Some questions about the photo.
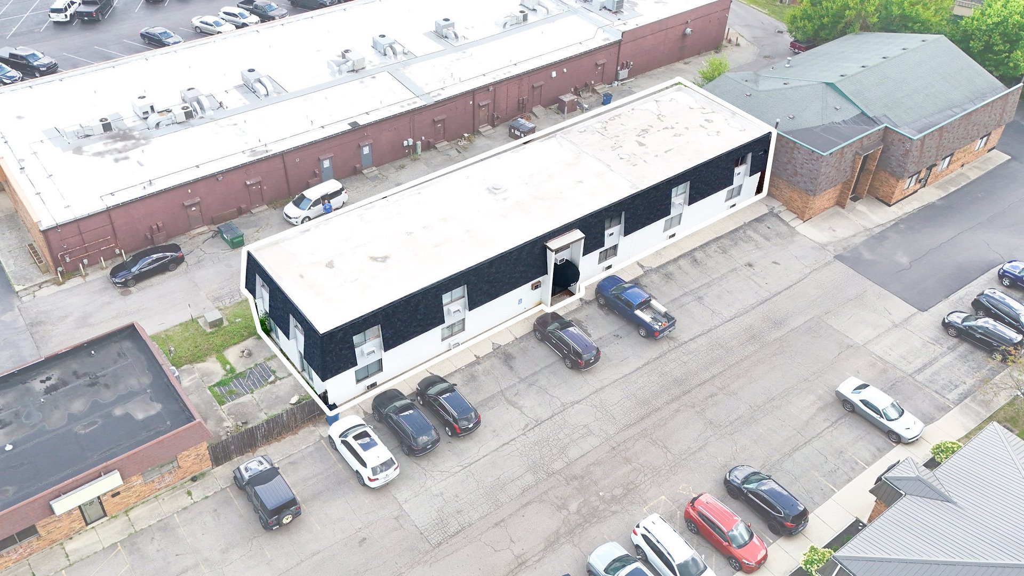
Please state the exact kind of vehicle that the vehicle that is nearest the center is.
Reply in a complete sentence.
The vehicle that is nearest the center appears to be an automobile.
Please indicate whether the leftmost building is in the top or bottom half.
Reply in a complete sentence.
It is in the bottom half that the leftmost building appears.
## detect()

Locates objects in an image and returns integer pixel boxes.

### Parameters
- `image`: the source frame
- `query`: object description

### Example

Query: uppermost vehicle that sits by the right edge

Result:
[996,261,1024,291]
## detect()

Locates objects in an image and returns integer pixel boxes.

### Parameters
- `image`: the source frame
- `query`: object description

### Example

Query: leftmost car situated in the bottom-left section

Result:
[231,454,305,539]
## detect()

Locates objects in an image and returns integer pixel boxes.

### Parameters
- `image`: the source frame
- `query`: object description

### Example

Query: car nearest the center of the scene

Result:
[533,311,604,374]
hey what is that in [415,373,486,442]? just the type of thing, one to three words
car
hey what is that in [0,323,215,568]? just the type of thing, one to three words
building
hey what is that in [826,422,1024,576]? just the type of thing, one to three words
building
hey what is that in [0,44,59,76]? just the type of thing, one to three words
truck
